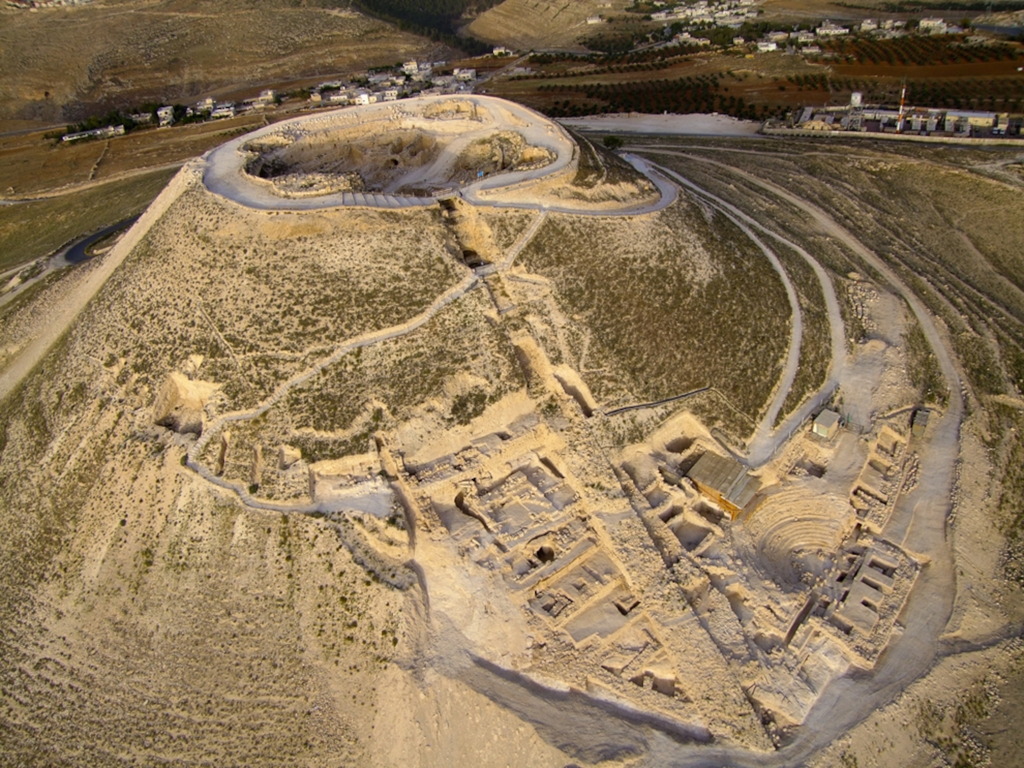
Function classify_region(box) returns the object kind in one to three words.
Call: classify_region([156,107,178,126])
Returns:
house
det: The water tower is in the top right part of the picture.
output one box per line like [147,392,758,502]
[847,91,869,128]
